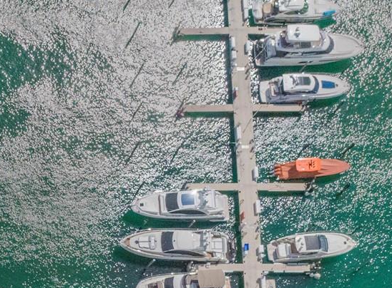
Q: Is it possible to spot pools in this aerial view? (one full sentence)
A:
No, no pool is visible in the view.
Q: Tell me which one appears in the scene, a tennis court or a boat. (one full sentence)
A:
The one in the frame is a boat.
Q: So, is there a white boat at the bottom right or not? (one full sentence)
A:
Yes, I can see a white boat at the bottom right.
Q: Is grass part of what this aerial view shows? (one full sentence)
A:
No, grass can't be seen anywhere here.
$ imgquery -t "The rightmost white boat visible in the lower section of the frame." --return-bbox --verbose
[255,234,362,266]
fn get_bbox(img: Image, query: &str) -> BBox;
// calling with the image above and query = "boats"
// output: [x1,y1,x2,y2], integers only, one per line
[255,234,362,266]
[117,230,245,265]
[271,160,351,183]
[128,193,241,225]
[250,75,355,106]
[137,275,242,288]
[243,0,343,29]
[247,29,370,71]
